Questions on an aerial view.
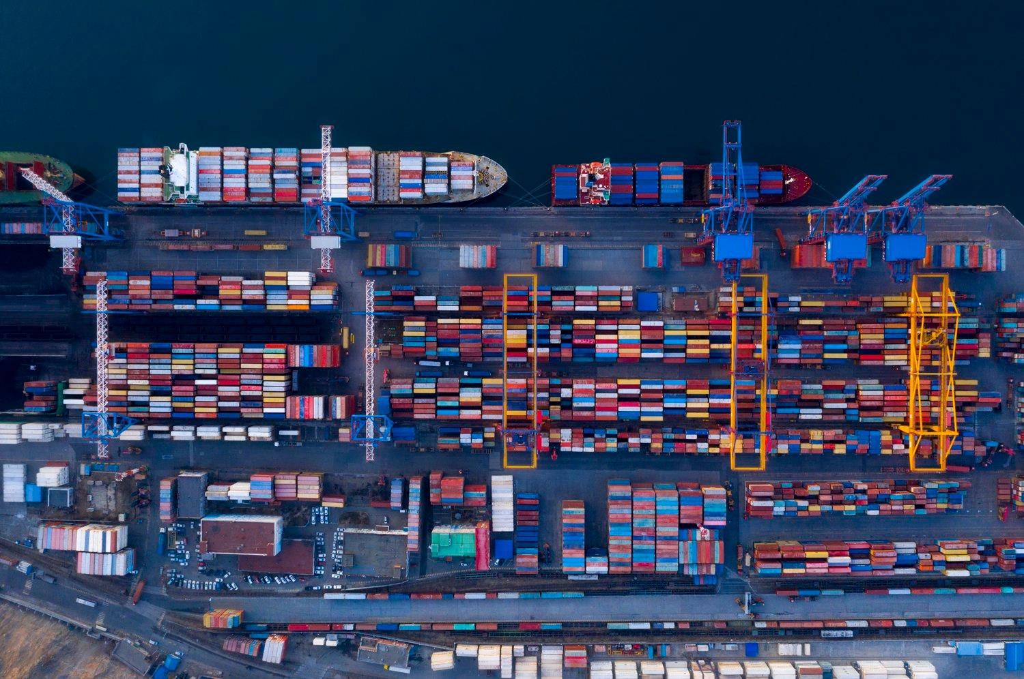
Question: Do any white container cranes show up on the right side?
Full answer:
No, no white container crane can be made out on the right side.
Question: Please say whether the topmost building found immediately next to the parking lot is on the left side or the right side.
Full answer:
The topmost building found immediately next to the parking lot sits on the left side.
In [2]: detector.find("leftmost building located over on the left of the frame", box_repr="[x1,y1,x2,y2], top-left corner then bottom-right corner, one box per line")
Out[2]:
[47,486,76,508]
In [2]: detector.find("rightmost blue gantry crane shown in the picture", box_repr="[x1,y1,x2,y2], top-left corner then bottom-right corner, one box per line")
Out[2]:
[855,174,955,283]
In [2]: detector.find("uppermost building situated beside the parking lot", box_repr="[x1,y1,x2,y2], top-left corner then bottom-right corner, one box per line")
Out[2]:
[177,469,213,519]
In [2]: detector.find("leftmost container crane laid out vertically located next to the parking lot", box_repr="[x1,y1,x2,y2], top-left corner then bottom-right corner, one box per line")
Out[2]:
[79,280,152,459]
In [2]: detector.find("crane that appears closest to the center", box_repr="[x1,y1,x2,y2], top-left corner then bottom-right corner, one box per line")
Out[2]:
[495,273,546,471]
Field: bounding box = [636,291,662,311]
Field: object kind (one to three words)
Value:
shed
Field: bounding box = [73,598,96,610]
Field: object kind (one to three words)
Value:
vehicle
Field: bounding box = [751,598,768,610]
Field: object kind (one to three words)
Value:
vehicle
